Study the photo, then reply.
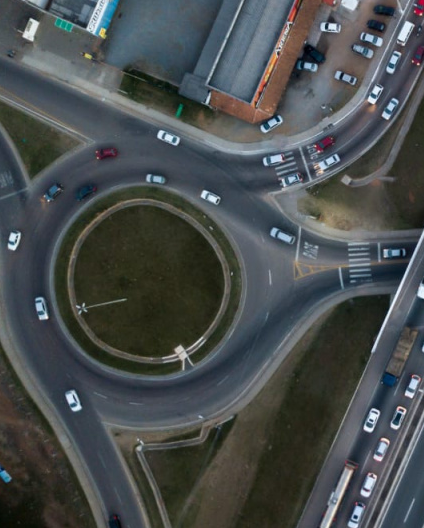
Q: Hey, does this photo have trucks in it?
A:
Yes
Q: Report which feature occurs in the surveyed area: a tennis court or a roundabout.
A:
roundabout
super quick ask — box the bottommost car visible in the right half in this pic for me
[348,502,365,528]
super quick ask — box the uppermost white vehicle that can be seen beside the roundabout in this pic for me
[157,130,181,146]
